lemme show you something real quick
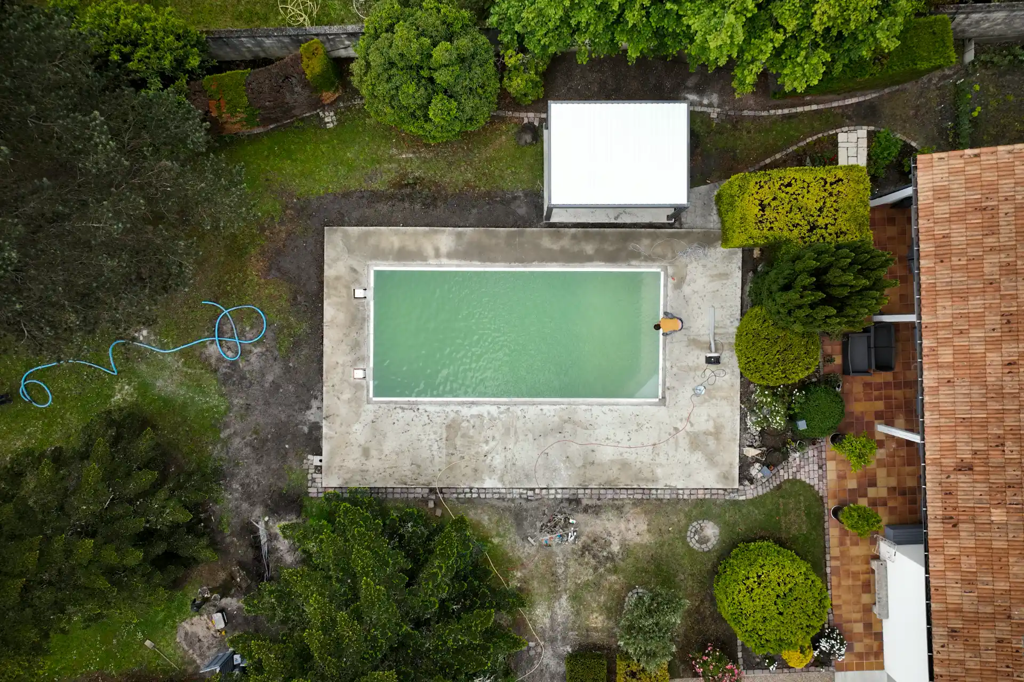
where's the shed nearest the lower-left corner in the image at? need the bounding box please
[199,647,240,682]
